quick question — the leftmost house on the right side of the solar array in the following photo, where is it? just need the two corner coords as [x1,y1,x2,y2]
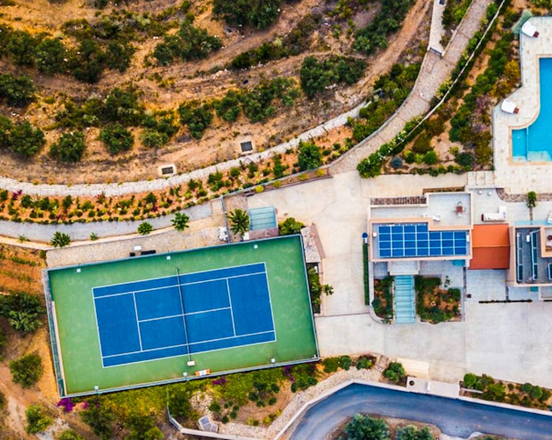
[467,223,511,270]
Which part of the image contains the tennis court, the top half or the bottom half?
bottom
